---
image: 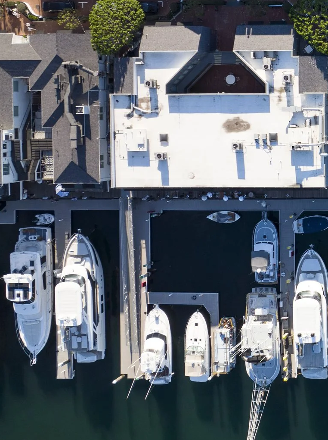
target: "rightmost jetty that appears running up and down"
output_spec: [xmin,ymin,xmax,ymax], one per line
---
[280,211,304,380]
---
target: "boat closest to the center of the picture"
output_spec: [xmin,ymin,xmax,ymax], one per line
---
[206,211,242,223]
